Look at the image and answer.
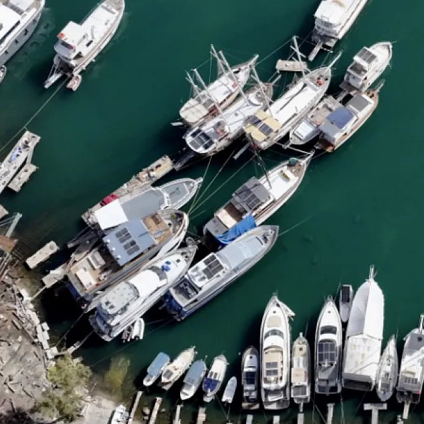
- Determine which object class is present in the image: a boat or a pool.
boat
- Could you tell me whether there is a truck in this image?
No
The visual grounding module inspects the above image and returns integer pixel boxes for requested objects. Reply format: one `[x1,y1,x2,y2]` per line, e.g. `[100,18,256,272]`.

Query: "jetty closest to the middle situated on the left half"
[83,154,176,224]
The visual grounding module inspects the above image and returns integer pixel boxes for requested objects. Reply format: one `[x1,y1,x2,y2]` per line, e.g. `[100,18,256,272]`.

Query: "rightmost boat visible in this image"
[397,314,424,419]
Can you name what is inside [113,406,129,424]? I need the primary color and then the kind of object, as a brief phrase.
white boat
